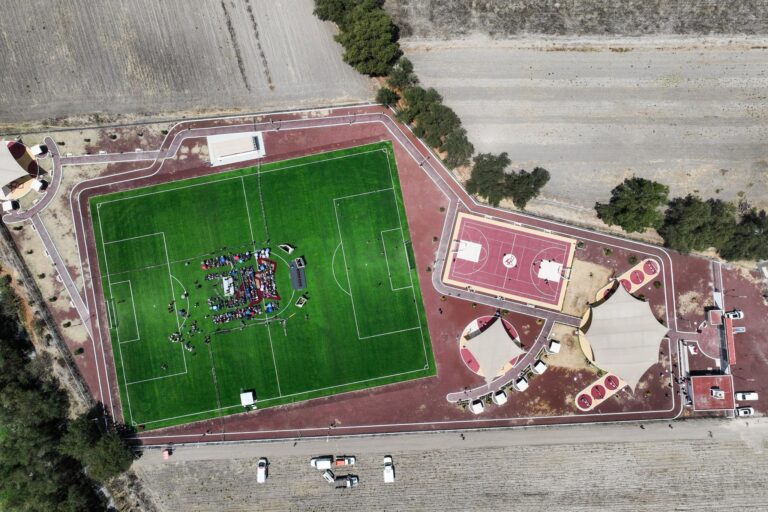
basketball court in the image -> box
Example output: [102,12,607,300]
[442,213,577,311]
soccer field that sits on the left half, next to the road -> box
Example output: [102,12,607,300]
[88,140,438,433]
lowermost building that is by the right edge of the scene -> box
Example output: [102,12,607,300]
[688,375,734,411]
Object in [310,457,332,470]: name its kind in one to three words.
vehicle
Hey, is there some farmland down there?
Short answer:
Yes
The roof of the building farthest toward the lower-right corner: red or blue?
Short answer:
red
